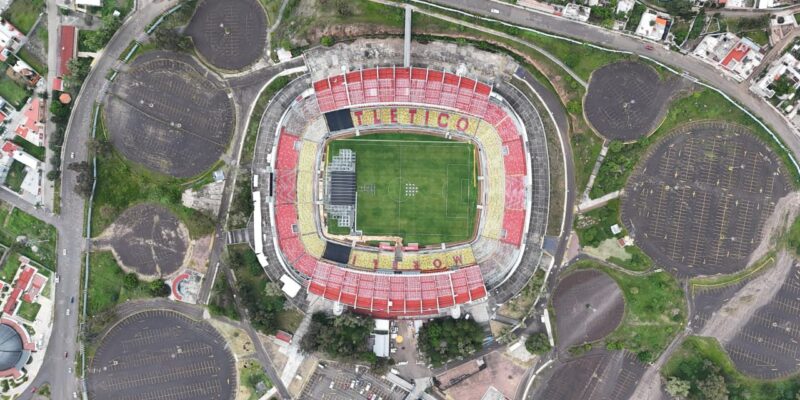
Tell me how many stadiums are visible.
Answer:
1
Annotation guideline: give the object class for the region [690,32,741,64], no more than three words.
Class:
house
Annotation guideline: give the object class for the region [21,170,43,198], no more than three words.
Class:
house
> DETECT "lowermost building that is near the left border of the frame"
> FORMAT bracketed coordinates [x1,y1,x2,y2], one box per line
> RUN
[0,315,40,379]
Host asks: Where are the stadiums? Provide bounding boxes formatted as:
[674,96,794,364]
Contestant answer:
[225,55,561,321]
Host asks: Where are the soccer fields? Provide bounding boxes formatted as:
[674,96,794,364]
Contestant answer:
[323,132,478,242]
